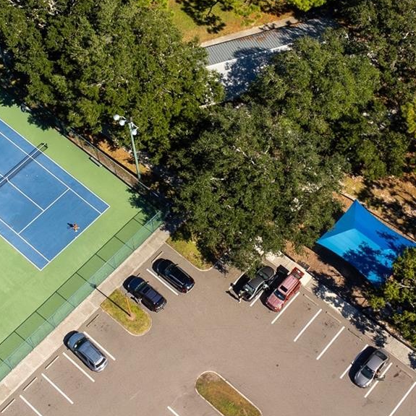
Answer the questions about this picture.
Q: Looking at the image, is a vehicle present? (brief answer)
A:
Yes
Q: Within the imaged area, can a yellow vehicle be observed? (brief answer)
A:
No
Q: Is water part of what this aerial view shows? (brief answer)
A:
No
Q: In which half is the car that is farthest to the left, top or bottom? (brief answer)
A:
bottom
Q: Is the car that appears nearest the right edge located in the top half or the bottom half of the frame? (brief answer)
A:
bottom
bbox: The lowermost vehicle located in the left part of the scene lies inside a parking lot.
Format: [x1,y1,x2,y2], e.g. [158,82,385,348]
[69,335,109,373]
